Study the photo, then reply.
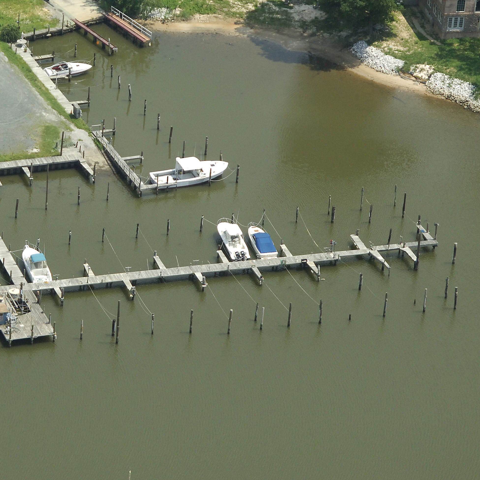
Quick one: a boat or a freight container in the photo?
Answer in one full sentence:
There is a boat in the scene.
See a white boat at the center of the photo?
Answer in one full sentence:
Yes, a white boat shows up at the center of the photo.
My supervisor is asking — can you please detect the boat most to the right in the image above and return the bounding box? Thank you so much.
[248,221,277,261]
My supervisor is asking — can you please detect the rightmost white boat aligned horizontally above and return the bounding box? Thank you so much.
[147,149,228,185]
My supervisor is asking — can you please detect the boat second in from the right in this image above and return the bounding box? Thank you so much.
[217,218,250,263]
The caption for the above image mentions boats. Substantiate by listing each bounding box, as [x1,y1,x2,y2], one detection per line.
[46,62,92,78]
[248,221,277,261]
[21,244,53,284]
[217,218,250,263]
[147,149,228,185]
